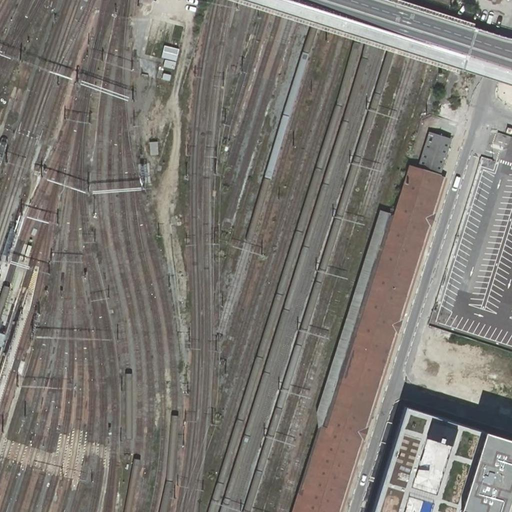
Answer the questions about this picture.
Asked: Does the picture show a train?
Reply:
Yes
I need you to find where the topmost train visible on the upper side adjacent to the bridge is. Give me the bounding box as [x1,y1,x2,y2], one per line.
[248,22,321,240]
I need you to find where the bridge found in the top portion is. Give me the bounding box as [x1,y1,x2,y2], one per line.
[218,0,512,81]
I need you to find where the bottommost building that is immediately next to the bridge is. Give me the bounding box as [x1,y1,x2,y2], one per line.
[290,165,445,512]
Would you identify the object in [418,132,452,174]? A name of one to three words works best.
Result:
building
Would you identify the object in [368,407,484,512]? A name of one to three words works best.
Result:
building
